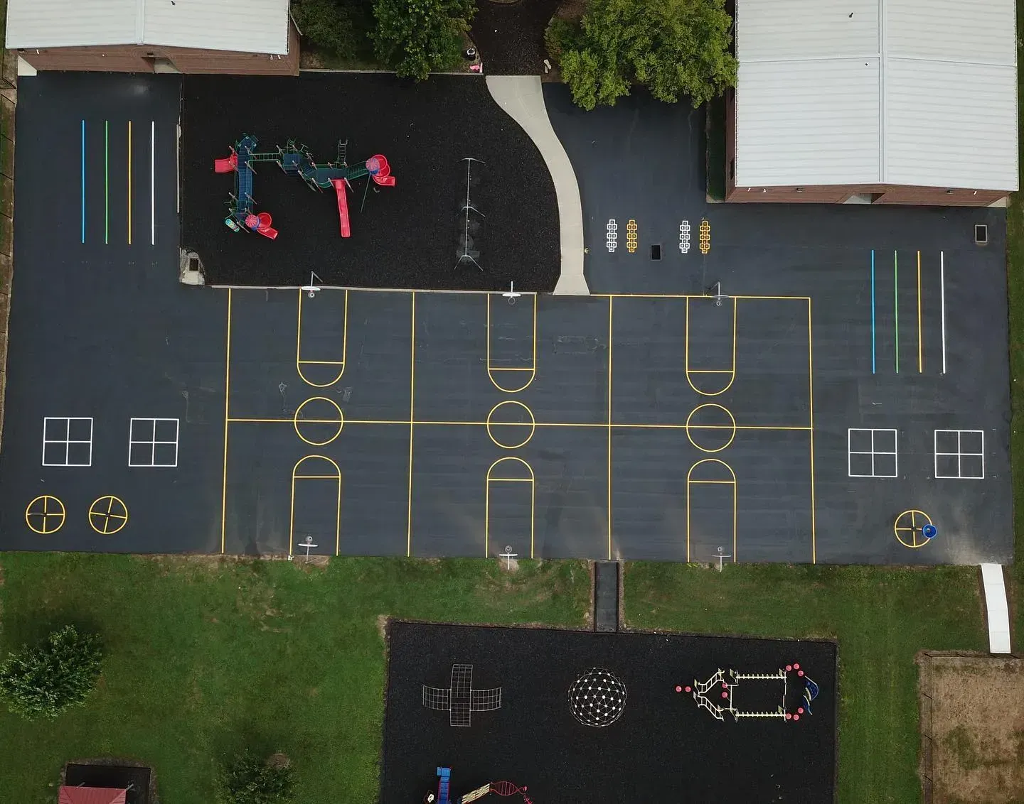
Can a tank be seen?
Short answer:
No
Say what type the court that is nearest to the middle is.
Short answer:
basketball court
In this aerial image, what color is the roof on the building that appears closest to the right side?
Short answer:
white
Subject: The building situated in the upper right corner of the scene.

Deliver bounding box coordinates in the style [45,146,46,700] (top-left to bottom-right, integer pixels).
[722,0,1020,206]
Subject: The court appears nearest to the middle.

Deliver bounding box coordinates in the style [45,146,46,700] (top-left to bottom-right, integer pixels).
[409,292,611,561]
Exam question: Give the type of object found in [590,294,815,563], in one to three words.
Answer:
basketball court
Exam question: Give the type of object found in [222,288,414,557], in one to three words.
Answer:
basketball court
